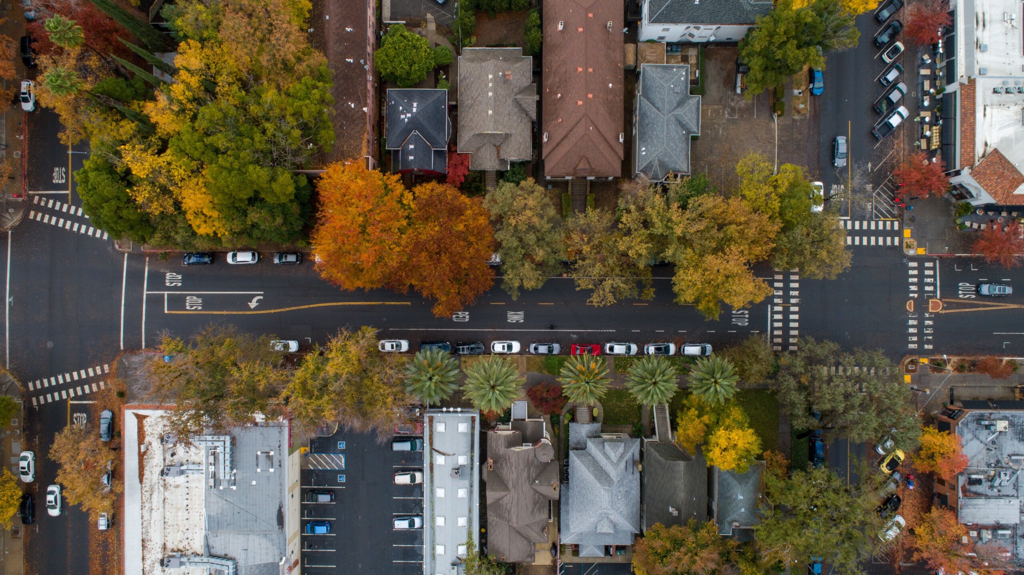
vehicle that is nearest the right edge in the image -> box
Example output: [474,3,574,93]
[979,282,1012,297]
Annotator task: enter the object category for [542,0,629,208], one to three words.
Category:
building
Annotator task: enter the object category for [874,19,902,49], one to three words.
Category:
car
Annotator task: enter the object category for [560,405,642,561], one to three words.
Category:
house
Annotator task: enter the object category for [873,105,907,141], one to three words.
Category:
truck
